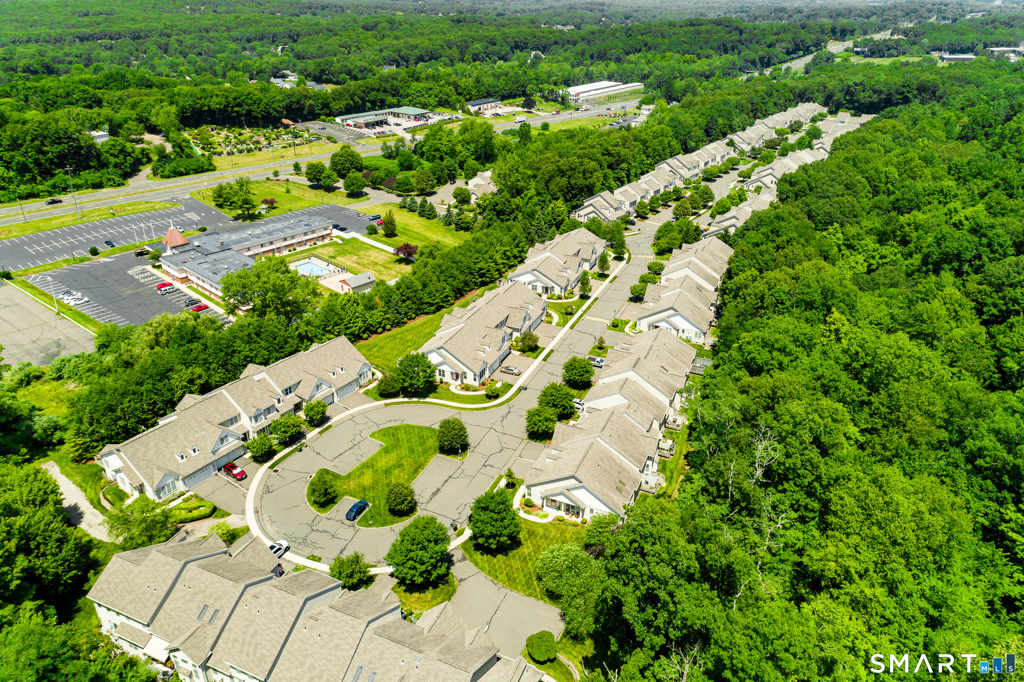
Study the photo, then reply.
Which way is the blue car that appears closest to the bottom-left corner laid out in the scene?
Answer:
diagonally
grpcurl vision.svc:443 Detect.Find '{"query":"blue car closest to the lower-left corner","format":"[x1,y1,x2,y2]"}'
[344,498,368,520]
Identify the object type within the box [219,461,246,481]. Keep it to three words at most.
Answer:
car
